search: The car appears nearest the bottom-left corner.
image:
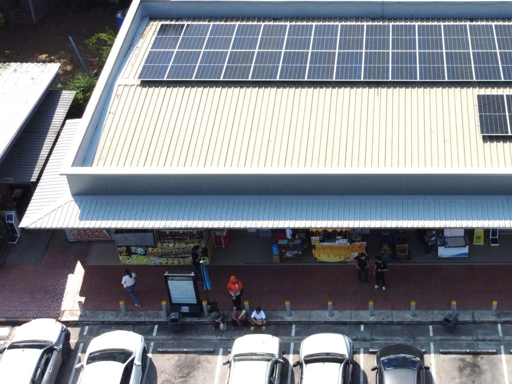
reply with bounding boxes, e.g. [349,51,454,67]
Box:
[0,318,66,384]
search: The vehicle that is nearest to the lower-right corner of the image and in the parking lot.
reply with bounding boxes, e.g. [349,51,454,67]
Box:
[369,343,432,384]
